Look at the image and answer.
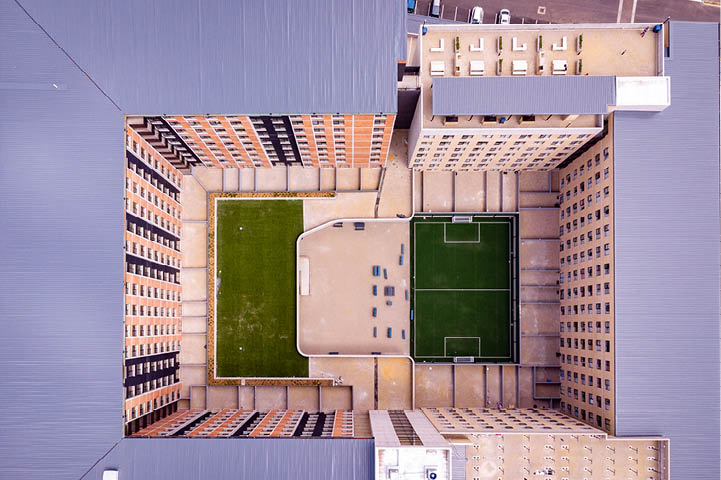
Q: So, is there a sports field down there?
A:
Yes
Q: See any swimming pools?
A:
No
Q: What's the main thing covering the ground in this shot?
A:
buildings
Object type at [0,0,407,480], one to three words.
building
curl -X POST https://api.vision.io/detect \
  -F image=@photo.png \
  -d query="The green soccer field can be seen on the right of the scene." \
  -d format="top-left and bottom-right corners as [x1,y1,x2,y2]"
[410,214,516,364]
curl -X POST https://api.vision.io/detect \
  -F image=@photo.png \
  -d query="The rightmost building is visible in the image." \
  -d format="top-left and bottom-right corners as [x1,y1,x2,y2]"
[560,20,720,480]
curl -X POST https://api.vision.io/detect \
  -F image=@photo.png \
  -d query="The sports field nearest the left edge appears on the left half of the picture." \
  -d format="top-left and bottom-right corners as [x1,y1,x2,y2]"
[213,198,335,384]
